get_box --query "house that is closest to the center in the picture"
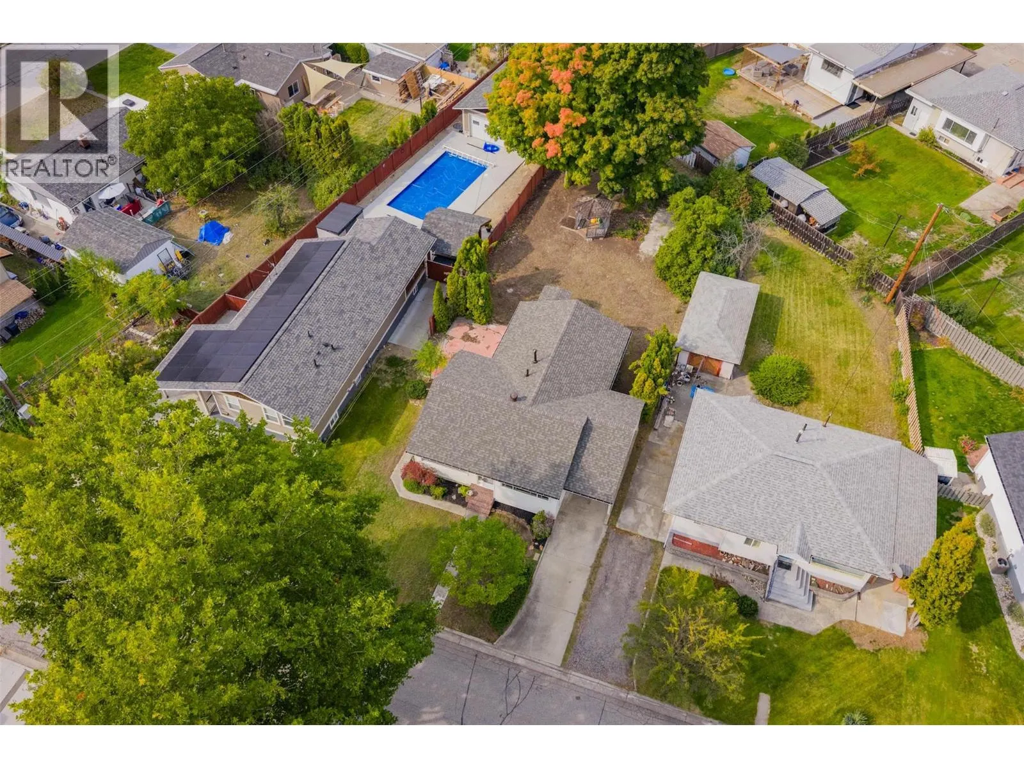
[405,287,643,522]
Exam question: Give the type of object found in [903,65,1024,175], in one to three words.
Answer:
house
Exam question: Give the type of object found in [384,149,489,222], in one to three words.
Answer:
swimming pool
